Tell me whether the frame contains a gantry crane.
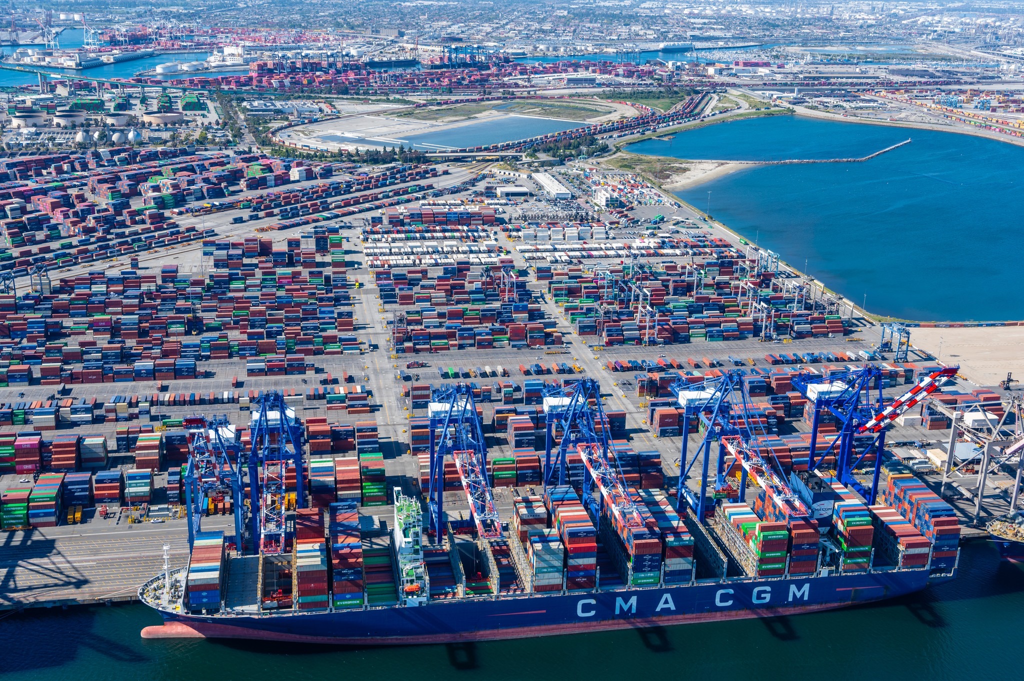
Yes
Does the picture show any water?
Yes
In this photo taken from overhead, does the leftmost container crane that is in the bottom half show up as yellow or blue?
blue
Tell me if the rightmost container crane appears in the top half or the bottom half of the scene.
bottom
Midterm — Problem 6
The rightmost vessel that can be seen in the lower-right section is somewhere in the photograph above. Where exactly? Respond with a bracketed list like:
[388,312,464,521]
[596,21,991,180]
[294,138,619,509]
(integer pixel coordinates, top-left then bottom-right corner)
[961,513,1024,565]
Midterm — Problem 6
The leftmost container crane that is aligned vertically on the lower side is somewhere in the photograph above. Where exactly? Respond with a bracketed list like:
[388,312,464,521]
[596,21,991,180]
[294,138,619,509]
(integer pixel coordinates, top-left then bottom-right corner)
[180,412,253,561]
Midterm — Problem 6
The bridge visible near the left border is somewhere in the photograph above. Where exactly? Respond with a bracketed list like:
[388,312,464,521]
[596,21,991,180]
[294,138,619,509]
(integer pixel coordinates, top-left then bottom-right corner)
[0,64,287,98]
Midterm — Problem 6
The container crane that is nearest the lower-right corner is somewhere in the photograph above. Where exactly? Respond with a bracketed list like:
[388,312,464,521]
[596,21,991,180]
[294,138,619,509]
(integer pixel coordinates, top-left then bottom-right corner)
[932,394,1024,532]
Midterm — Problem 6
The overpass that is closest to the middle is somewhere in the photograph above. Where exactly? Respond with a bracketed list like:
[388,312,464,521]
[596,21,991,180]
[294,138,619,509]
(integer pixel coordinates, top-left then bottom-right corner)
[403,150,566,171]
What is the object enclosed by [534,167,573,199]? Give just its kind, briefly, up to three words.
building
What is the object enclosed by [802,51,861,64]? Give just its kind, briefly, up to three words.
ship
